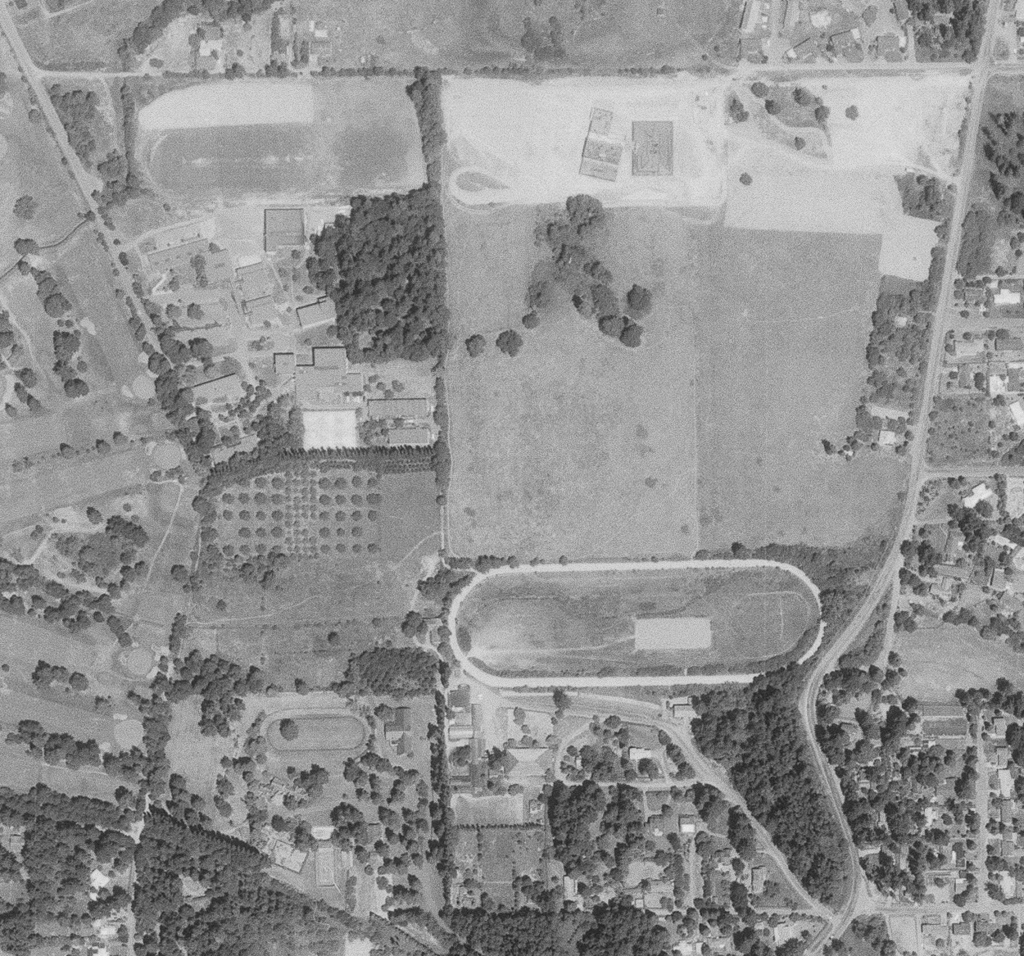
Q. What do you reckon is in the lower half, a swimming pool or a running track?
running track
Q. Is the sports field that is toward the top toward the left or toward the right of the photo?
left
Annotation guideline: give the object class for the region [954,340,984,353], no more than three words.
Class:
house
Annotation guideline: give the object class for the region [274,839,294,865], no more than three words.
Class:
building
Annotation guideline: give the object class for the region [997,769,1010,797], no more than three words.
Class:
house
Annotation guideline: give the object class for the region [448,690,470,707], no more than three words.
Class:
building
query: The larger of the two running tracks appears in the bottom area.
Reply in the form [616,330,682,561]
[449,558,768,687]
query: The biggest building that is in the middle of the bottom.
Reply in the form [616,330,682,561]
[506,747,556,777]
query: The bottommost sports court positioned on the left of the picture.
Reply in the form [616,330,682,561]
[304,412,356,449]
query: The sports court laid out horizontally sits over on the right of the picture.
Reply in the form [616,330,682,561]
[635,618,710,650]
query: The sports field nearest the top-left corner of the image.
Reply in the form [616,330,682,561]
[134,74,428,198]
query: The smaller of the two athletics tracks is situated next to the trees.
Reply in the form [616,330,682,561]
[262,710,371,756]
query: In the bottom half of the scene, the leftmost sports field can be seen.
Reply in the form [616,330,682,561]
[270,719,363,747]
